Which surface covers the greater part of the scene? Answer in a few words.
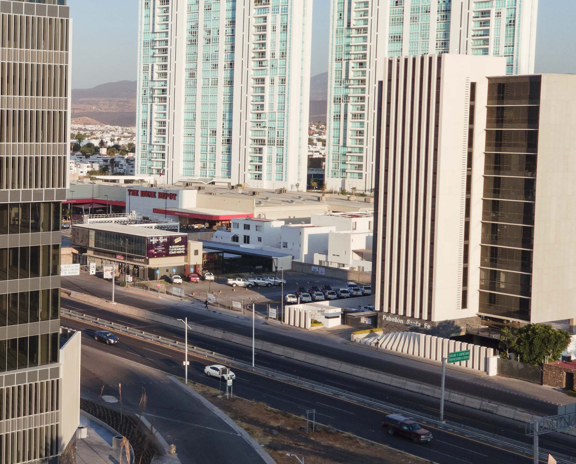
buildings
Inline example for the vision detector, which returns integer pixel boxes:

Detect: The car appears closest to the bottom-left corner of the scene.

[93,329,119,344]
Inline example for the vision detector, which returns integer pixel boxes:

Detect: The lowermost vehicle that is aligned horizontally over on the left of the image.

[203,365,236,381]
